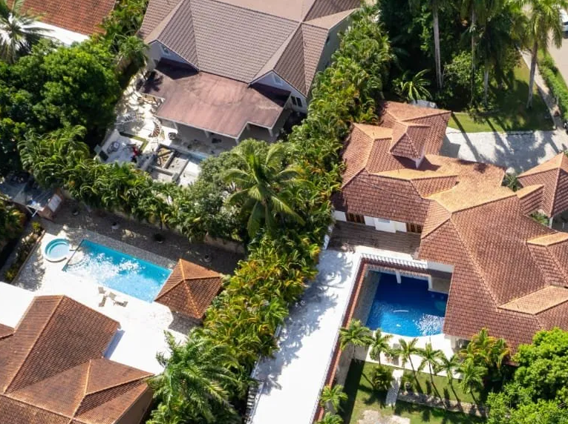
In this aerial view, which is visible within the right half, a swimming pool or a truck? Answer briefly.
swimming pool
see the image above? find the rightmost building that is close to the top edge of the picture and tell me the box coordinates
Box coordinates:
[138,0,359,147]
